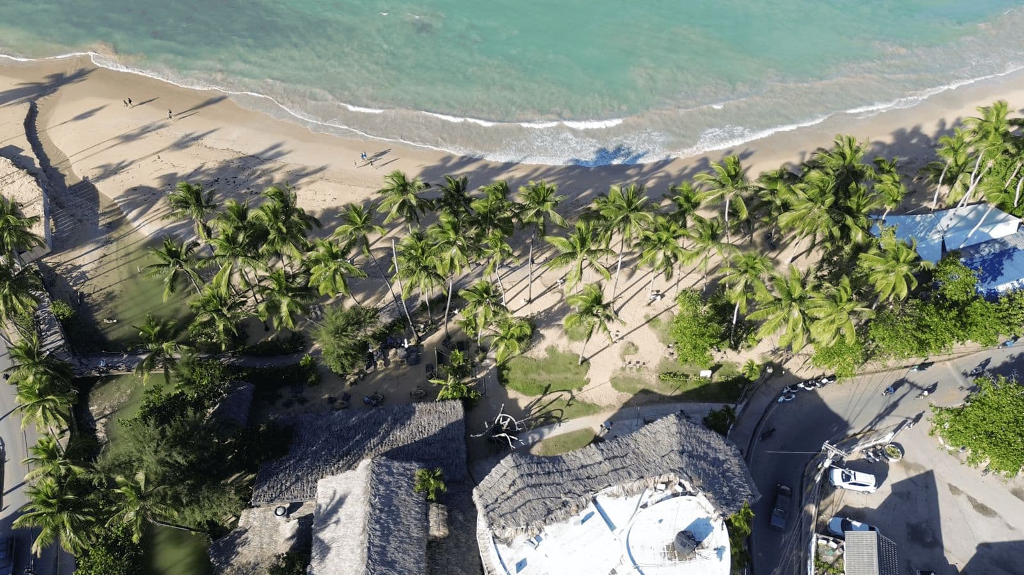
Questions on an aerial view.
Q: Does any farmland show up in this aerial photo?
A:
No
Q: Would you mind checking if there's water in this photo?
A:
Yes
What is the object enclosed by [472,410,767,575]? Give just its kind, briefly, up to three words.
building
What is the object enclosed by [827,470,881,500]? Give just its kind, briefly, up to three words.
car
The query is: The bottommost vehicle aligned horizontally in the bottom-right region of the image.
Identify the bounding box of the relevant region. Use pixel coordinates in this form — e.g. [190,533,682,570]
[825,512,881,537]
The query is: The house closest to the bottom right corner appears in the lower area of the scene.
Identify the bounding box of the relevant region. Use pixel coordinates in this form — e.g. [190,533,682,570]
[828,530,898,575]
